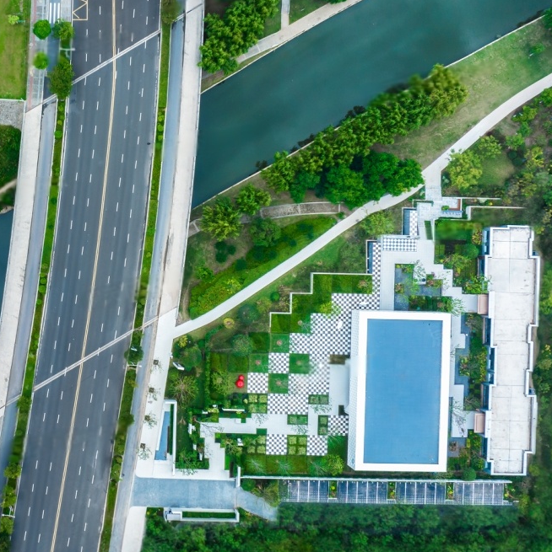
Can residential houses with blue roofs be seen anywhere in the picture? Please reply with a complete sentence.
Yes, there's a residential house with a blue roof here.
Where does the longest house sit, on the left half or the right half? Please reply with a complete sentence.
You can find the longest house on the right side of the picture.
